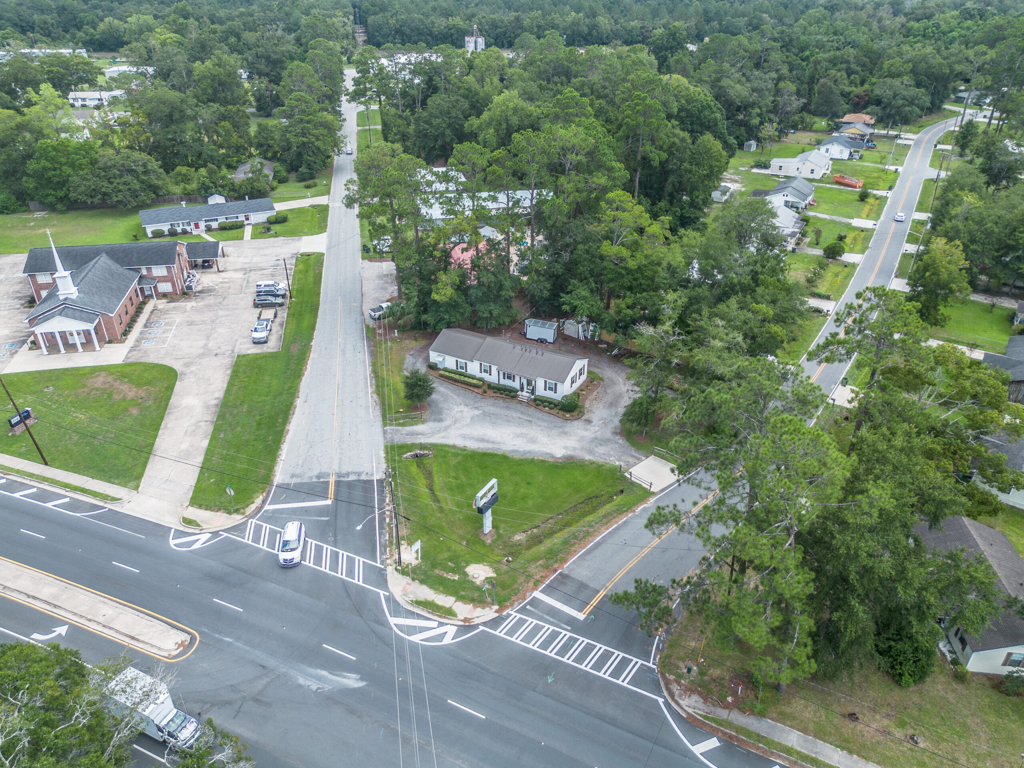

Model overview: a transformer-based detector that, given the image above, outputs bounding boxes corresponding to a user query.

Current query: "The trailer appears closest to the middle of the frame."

[517,318,558,341]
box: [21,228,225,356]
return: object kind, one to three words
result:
church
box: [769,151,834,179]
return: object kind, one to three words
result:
house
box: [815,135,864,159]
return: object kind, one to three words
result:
house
